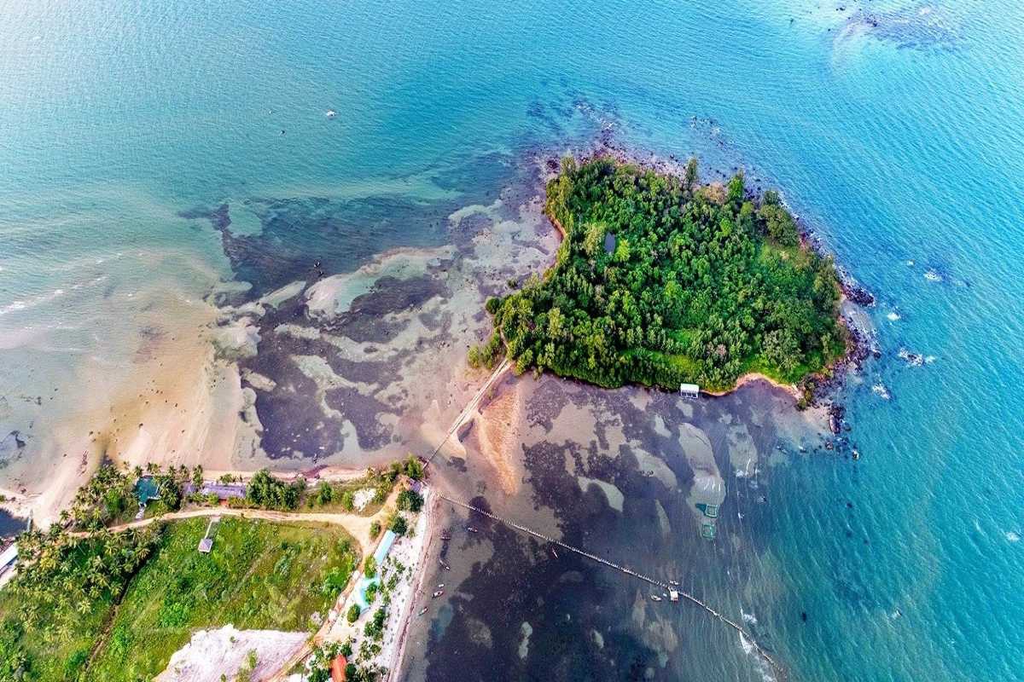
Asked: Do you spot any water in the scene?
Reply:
Yes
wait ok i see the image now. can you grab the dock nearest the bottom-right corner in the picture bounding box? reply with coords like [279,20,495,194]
[438,494,780,670]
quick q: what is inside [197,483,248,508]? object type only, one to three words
house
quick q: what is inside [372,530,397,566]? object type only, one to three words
house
